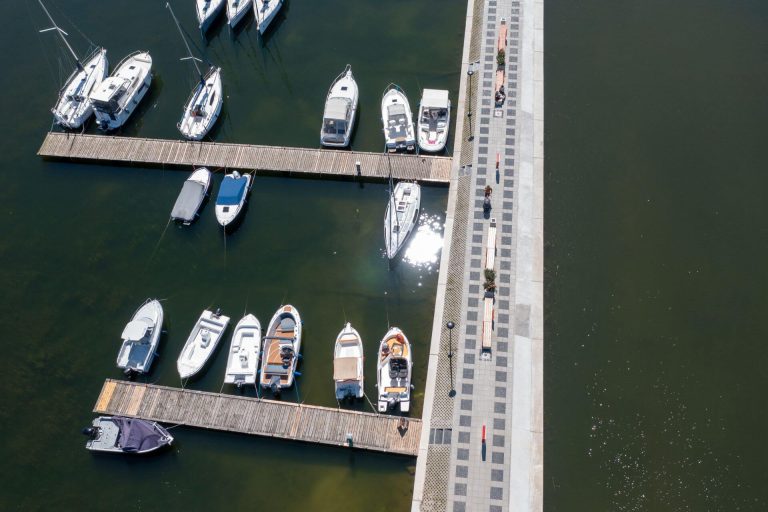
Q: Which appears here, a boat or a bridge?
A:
boat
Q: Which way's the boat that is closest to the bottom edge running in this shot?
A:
horizontally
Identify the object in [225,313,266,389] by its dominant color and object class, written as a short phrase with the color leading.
white boat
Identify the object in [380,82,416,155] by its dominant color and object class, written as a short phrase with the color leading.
white boat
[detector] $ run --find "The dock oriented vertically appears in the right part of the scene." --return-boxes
[411,0,543,512]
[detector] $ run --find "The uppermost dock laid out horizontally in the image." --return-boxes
[34,132,452,186]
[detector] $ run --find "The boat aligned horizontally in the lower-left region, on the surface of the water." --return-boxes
[81,418,176,453]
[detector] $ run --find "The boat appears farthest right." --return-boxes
[416,87,453,152]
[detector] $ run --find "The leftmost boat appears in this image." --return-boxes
[22,0,108,131]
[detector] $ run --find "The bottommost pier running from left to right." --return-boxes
[92,379,422,457]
